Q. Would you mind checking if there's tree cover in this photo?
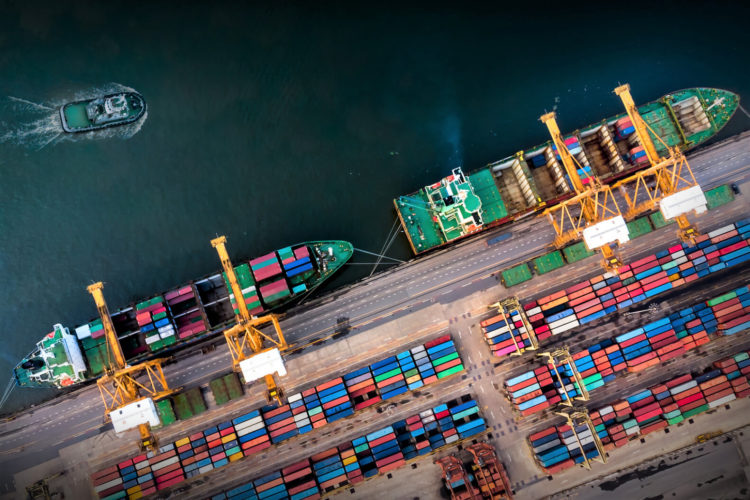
No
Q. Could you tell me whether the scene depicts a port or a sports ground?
port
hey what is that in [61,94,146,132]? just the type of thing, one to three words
boat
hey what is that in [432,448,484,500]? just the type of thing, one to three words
container crane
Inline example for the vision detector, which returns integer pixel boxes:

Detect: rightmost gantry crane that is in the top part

[612,83,709,245]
